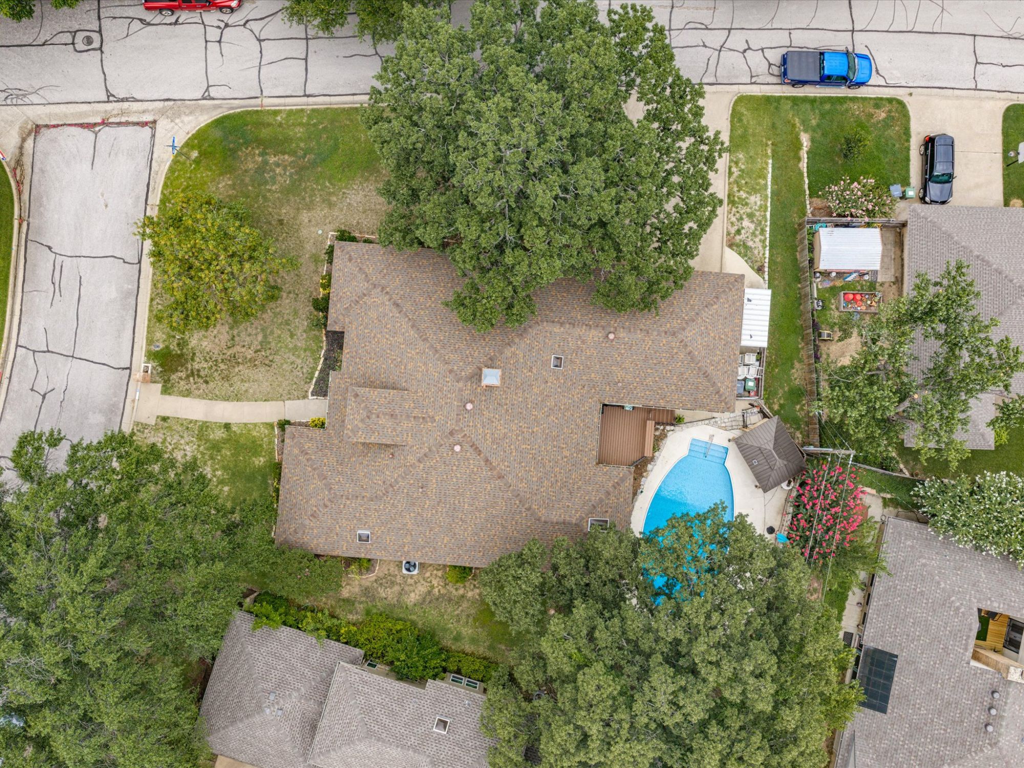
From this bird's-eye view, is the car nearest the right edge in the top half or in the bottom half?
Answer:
top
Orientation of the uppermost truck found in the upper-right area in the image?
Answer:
from left to right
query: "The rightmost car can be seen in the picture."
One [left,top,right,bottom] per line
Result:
[915,134,958,206]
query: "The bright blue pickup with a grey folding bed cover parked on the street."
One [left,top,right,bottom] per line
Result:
[776,48,871,92]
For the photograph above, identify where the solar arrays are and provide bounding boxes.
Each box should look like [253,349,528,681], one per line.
[860,645,900,716]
